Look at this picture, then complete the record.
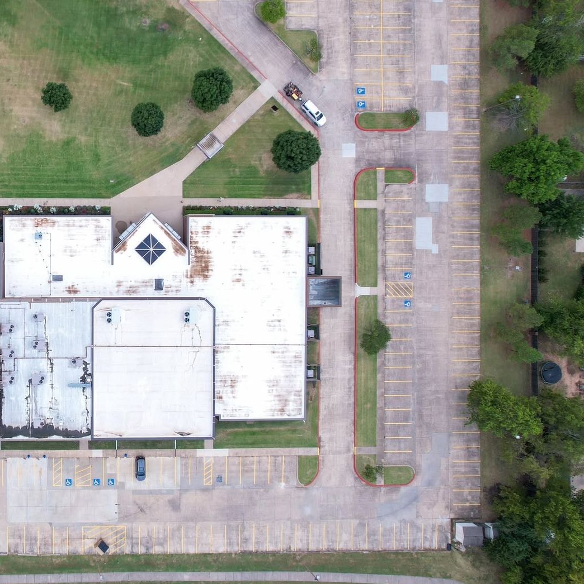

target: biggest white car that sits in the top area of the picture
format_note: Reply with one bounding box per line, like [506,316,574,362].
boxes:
[302,100,324,126]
